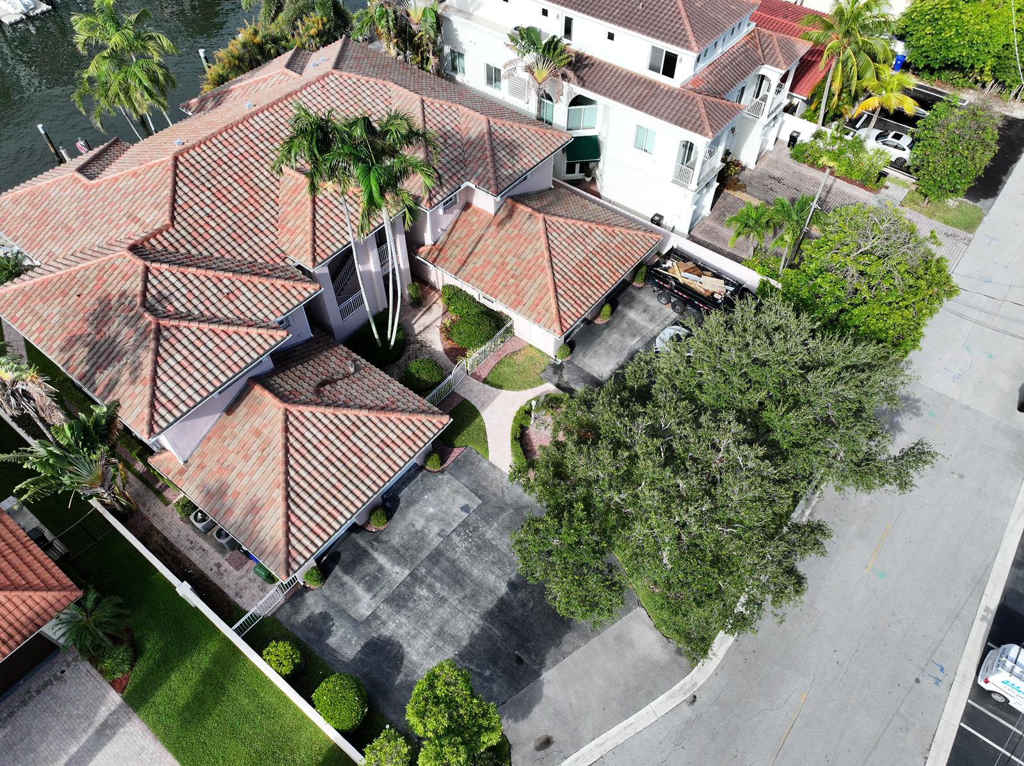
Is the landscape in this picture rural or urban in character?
urban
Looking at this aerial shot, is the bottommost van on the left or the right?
right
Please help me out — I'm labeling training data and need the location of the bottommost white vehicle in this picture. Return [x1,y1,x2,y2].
[972,643,1024,718]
